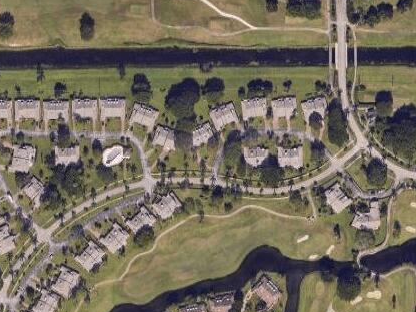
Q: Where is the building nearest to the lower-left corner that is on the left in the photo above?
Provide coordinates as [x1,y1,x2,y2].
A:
[33,290,62,312]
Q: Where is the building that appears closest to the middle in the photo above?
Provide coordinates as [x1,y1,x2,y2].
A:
[189,122,216,149]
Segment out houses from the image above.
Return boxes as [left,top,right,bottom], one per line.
[278,148,304,167]
[43,101,69,119]
[254,278,282,306]
[55,147,80,163]
[210,103,240,130]
[301,99,329,123]
[129,102,159,129]
[75,243,104,274]
[209,293,233,312]
[101,223,128,255]
[154,125,177,148]
[325,182,354,210]
[0,101,13,120]
[16,101,41,120]
[33,290,62,312]
[180,305,206,312]
[241,99,268,119]
[51,267,81,295]
[11,145,37,172]
[153,192,184,217]
[0,225,20,253]
[72,100,98,119]
[244,148,269,165]
[189,122,216,149]
[21,177,48,201]
[271,99,297,117]
[127,205,158,231]
[100,99,125,118]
